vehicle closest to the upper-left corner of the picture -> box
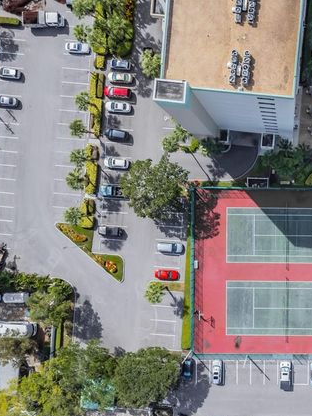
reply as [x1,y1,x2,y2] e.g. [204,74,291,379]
[20,12,64,29]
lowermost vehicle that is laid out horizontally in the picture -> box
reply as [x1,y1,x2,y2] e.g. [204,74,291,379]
[0,320,43,339]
